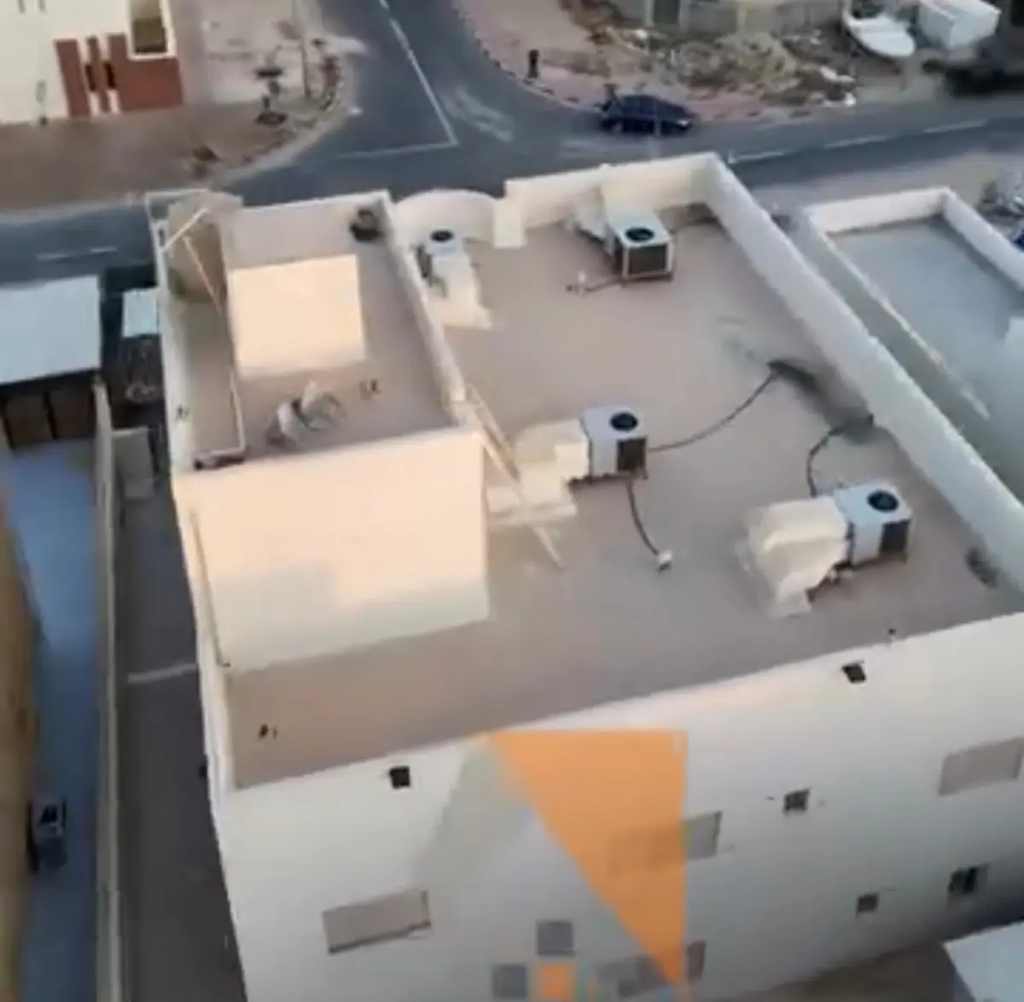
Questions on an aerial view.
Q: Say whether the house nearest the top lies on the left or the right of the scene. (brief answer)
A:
left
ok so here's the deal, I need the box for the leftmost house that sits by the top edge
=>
[0,0,185,124]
